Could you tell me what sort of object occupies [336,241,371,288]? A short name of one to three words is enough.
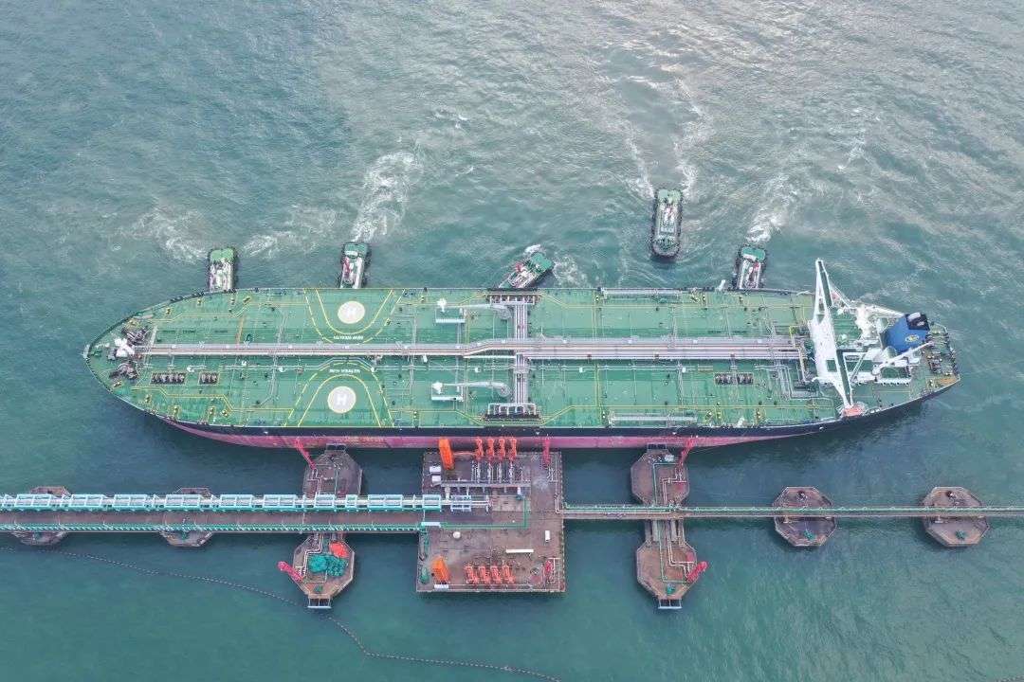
boat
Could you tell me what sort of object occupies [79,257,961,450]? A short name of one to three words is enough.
ship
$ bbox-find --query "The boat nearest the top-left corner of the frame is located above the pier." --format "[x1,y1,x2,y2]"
[204,248,238,291]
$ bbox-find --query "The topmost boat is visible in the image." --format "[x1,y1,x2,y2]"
[649,188,683,259]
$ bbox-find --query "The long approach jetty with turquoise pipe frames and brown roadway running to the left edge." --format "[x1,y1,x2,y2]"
[0,494,430,535]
